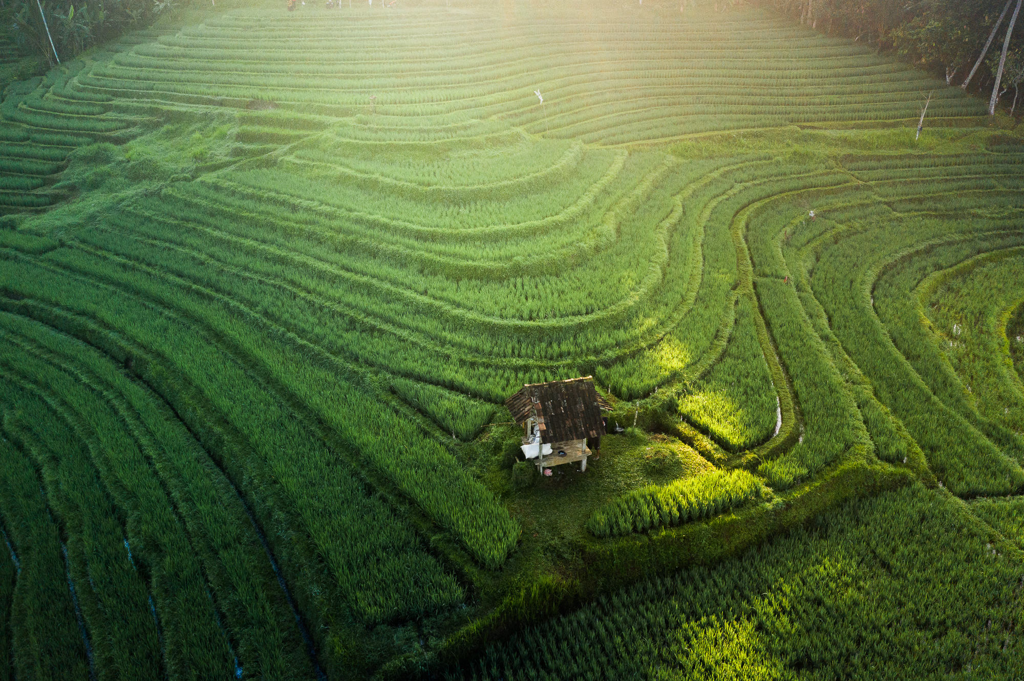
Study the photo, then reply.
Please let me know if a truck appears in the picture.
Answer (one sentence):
No, there isn't any truck down there.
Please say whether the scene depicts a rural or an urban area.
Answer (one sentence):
The area is rural.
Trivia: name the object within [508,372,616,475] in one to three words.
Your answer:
shed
